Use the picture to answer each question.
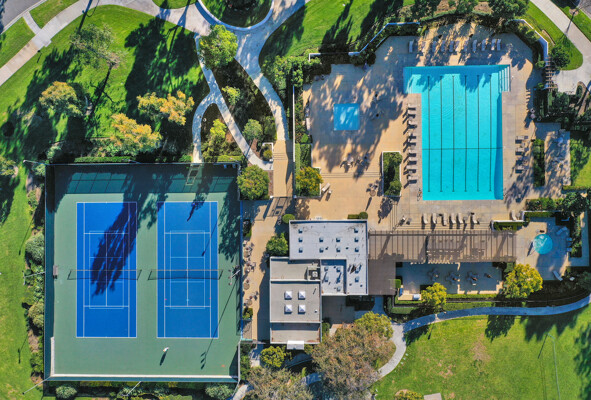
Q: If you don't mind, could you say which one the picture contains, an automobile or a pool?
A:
pool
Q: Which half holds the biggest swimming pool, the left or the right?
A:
right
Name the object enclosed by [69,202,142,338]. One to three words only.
tennis court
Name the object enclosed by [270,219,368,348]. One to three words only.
building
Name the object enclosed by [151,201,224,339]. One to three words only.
tennis court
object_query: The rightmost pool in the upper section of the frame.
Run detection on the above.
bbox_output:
[403,63,513,201]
